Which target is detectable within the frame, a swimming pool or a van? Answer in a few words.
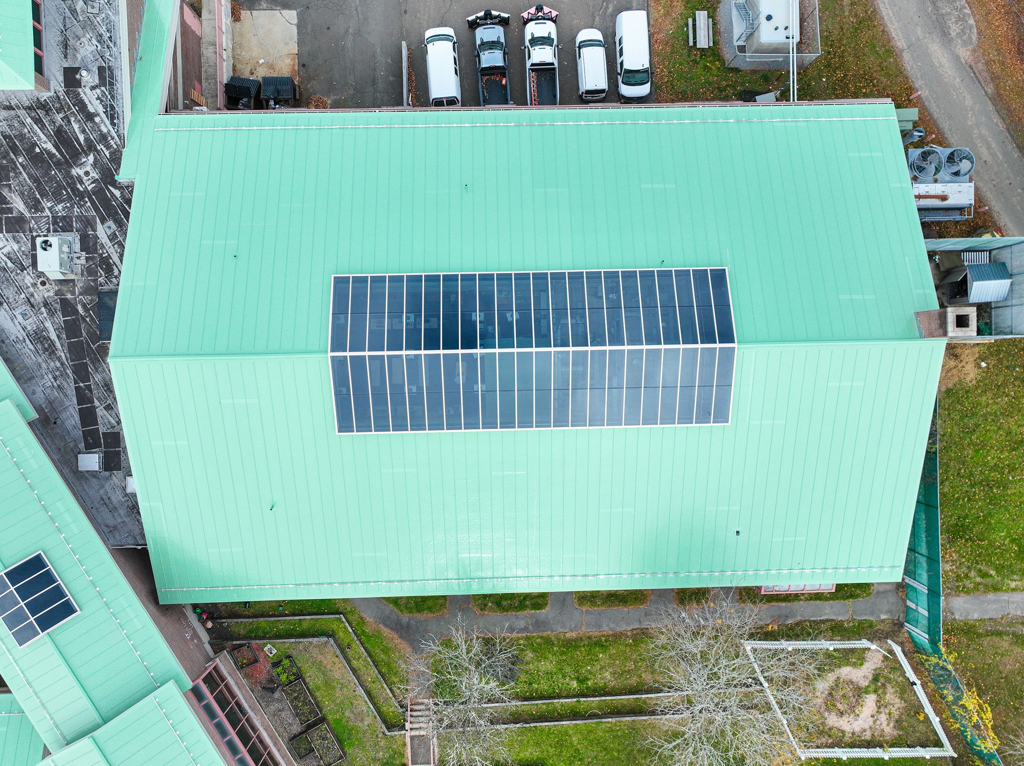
van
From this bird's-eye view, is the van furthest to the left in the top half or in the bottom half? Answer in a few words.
top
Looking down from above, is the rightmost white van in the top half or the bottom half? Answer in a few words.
top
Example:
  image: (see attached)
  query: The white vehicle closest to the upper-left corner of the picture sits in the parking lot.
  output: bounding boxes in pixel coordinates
[421,26,463,107]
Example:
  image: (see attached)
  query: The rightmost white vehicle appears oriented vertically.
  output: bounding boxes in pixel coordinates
[615,10,656,105]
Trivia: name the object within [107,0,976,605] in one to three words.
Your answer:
building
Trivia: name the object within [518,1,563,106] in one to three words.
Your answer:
truck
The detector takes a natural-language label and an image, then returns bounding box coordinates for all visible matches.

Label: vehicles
[573,29,610,103]
[518,1,563,106]
[421,26,463,107]
[467,6,513,107]
[615,10,656,105]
